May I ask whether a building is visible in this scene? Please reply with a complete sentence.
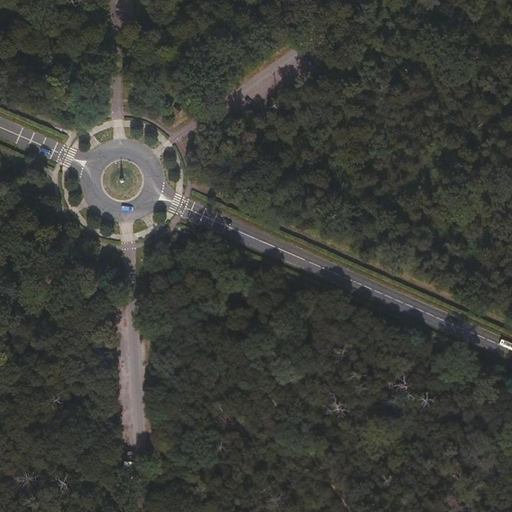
No, there's no building here.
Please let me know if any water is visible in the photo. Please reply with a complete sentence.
No, there's no water in this view.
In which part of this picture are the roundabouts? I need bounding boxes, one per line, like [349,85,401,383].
[80,139,164,222]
